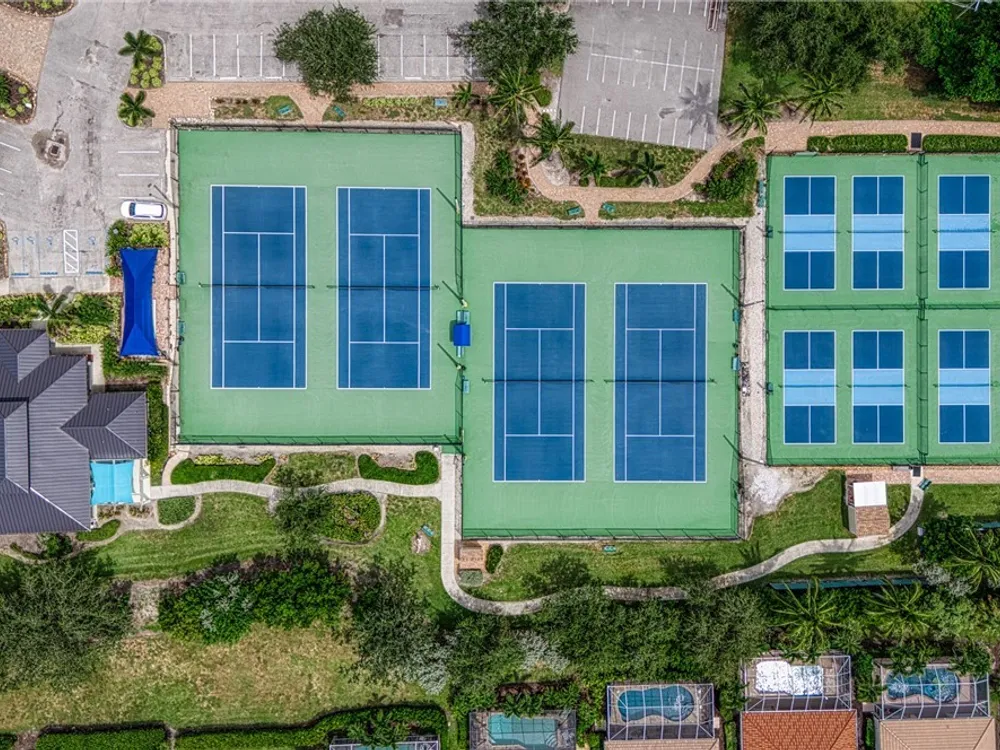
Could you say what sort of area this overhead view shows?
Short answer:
sports ground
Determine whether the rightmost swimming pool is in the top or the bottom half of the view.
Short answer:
bottom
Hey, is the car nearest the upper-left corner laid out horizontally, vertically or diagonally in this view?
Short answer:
horizontally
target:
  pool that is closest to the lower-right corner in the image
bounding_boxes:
[877,654,984,718]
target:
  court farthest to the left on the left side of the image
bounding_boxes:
[179,130,322,444]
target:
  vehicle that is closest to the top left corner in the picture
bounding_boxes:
[121,199,167,221]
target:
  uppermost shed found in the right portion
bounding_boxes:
[845,479,890,537]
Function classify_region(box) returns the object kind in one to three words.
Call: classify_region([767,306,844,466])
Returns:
sports court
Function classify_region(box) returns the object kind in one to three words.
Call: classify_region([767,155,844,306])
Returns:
sports court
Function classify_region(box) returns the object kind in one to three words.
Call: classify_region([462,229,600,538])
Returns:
tennis court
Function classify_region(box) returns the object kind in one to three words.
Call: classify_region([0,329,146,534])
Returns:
building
